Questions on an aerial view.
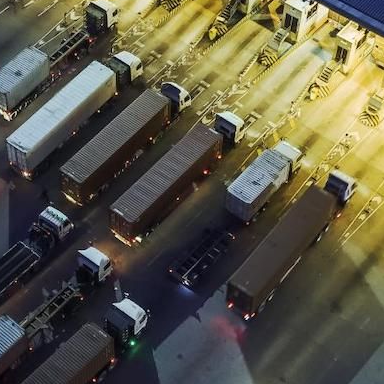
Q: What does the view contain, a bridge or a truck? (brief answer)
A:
truck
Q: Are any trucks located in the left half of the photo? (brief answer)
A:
Yes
